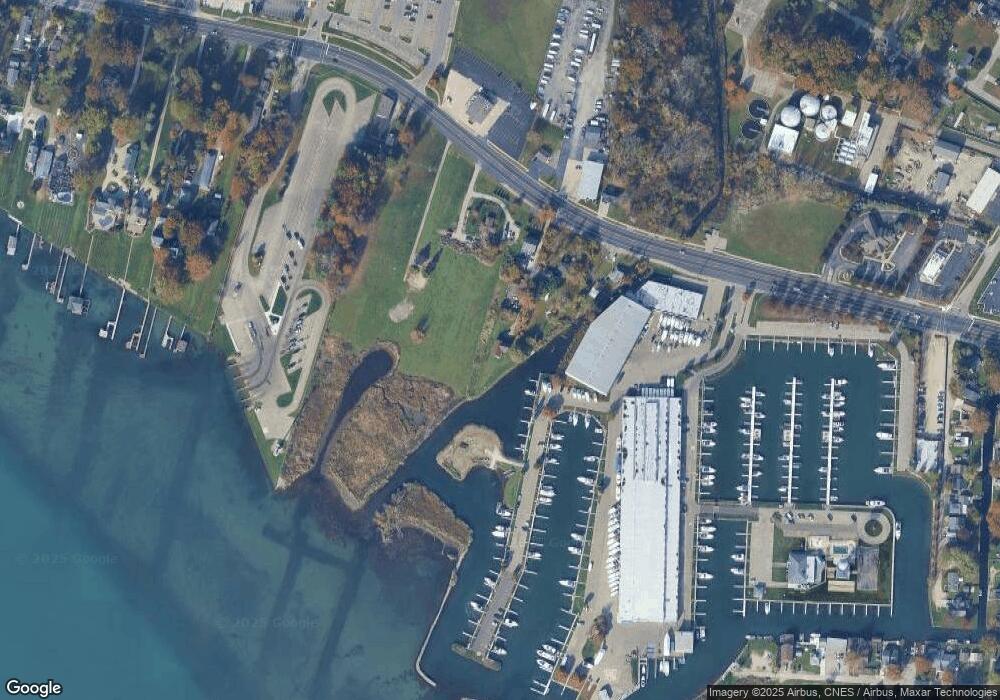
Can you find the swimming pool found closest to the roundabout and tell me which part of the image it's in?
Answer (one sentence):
The swimming pool found closest to the roundabout is in the bottom right part of the image.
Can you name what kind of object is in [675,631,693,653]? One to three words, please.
building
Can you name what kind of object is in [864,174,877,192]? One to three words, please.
vehicle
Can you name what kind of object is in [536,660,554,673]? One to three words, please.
boat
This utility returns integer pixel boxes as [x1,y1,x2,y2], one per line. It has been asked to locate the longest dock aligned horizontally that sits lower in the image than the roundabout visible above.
[743,599,892,616]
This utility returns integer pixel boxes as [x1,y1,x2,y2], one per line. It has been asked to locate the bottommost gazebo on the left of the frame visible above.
[269,440,283,455]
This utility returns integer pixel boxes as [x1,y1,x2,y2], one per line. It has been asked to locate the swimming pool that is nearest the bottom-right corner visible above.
[832,541,855,565]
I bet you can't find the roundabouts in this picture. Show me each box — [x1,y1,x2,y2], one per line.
[862,511,891,544]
